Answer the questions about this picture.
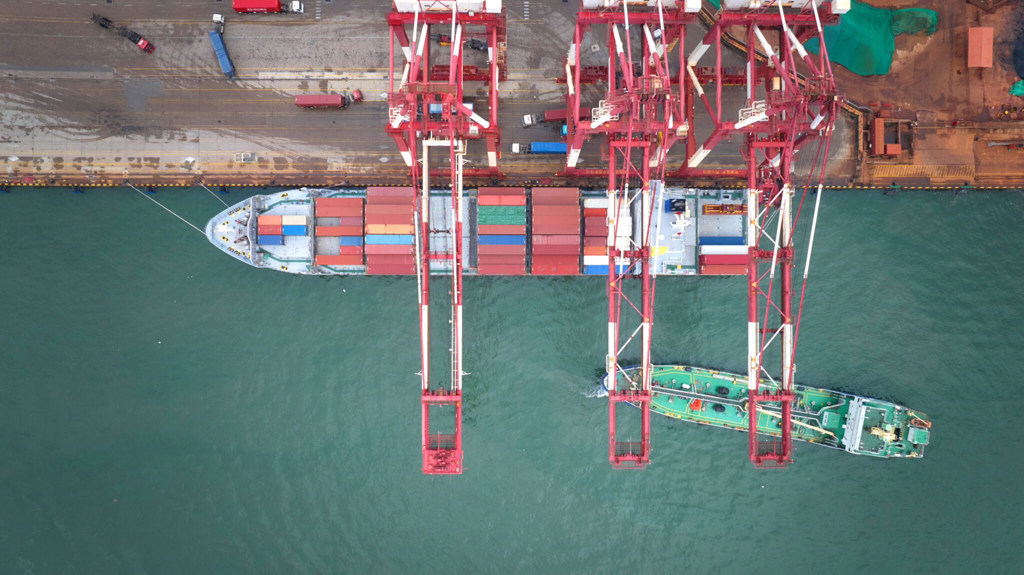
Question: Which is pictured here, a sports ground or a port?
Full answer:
It's a port.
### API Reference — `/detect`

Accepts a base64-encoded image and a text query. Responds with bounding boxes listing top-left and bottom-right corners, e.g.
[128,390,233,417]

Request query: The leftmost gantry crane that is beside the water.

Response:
[379,0,514,478]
